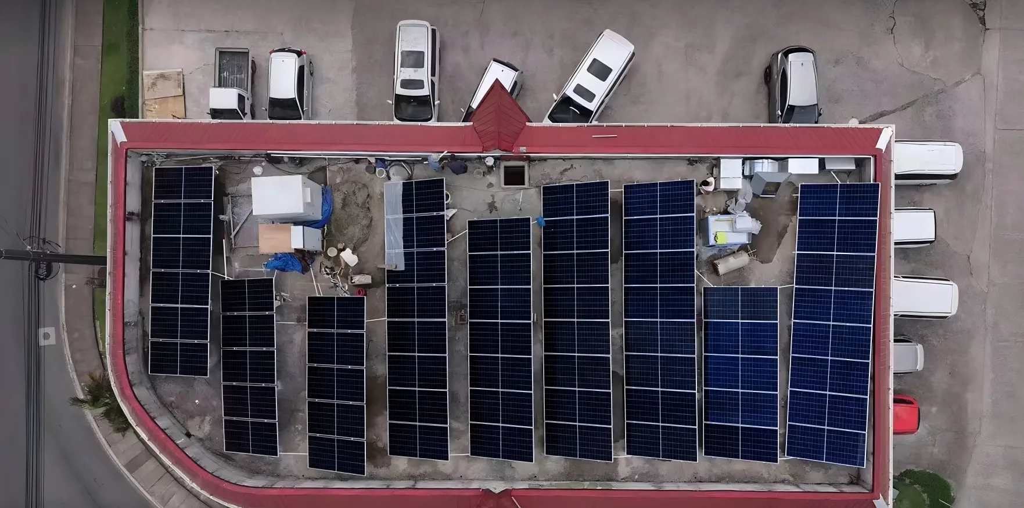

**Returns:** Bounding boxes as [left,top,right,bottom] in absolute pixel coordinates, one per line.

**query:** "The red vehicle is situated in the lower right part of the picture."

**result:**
[896,390,919,433]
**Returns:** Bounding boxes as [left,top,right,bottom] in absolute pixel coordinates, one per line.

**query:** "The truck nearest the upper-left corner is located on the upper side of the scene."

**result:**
[207,47,258,118]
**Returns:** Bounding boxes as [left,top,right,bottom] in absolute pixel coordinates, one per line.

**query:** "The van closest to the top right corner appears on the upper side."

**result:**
[898,141,961,188]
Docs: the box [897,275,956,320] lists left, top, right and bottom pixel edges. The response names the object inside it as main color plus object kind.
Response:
white van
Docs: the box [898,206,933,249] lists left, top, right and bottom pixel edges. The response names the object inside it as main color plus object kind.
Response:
white car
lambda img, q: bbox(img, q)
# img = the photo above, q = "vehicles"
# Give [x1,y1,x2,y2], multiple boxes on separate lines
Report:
[763,48,817,123]
[207,47,258,118]
[547,32,632,121]
[389,22,441,120]
[898,206,933,249]
[897,333,923,374]
[457,60,524,120]
[896,390,919,433]
[897,275,956,320]
[267,47,316,118]
[898,141,961,188]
